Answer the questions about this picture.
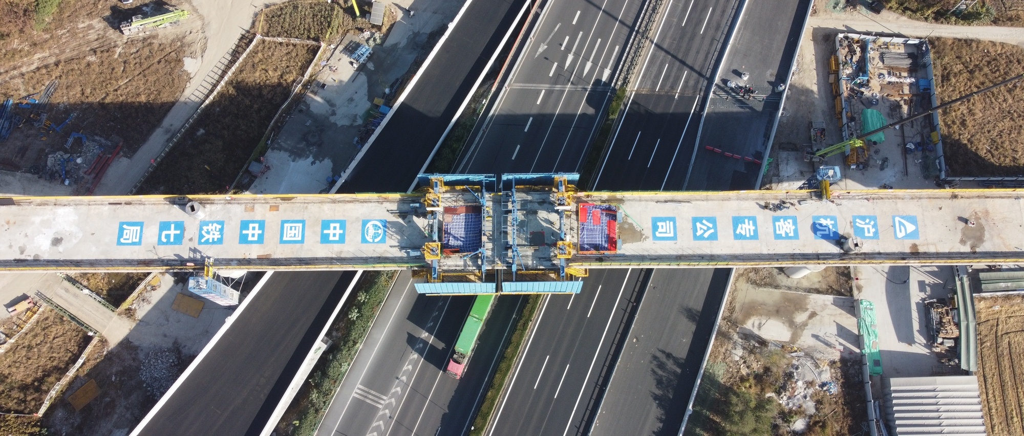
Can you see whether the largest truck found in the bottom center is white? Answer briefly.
No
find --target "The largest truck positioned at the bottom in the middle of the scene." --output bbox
[449,296,495,383]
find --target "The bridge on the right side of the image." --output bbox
[507,193,1024,282]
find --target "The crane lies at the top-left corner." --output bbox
[118,6,192,43]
